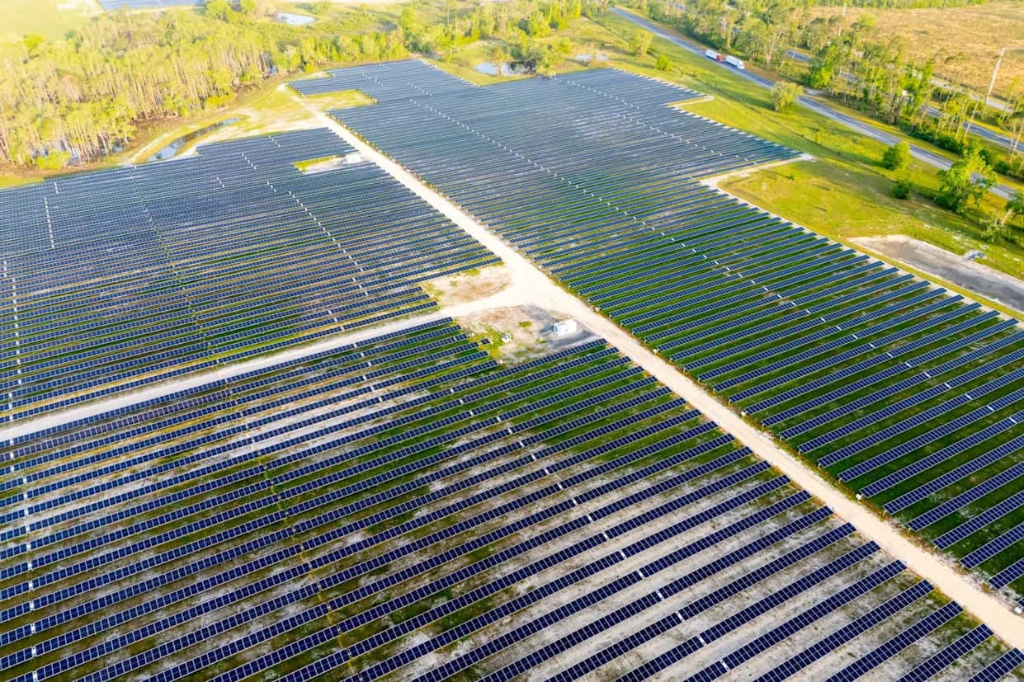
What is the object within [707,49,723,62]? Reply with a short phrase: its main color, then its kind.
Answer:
white vehicle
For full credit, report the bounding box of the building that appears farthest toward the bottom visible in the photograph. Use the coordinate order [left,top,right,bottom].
[554,316,579,335]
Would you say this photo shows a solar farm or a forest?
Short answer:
solar farm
